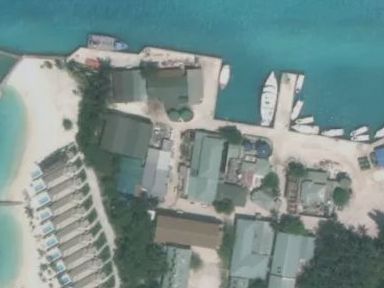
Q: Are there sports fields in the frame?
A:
No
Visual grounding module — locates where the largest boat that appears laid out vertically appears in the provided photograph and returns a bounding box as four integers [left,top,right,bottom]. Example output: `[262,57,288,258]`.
[261,72,277,127]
